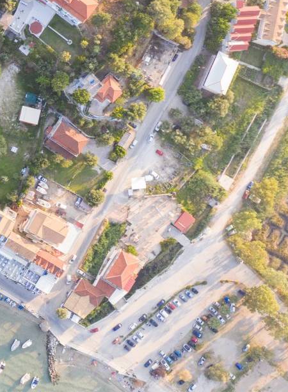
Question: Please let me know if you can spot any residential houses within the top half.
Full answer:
Yes, I can see a residential house within the top half.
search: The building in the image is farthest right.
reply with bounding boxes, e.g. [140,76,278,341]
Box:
[250,0,288,47]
